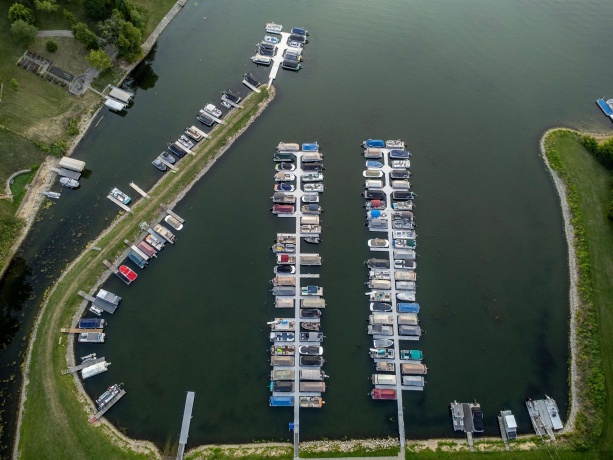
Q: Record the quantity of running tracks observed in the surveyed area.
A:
0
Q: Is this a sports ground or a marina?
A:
marina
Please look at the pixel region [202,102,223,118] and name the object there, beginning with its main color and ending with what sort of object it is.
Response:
white boat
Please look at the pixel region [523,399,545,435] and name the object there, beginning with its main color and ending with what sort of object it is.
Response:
gray boat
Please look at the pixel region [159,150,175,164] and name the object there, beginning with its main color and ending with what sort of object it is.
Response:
gray boat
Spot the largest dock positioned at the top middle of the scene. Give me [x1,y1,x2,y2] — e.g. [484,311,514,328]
[266,31,302,90]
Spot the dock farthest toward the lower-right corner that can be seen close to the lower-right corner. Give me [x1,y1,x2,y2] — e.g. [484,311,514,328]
[536,400,556,441]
